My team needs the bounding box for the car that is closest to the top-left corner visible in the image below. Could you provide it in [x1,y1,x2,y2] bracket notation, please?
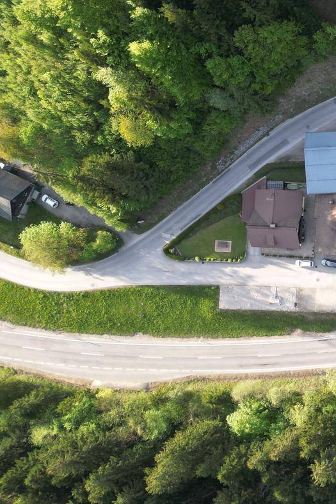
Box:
[40,194,58,207]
